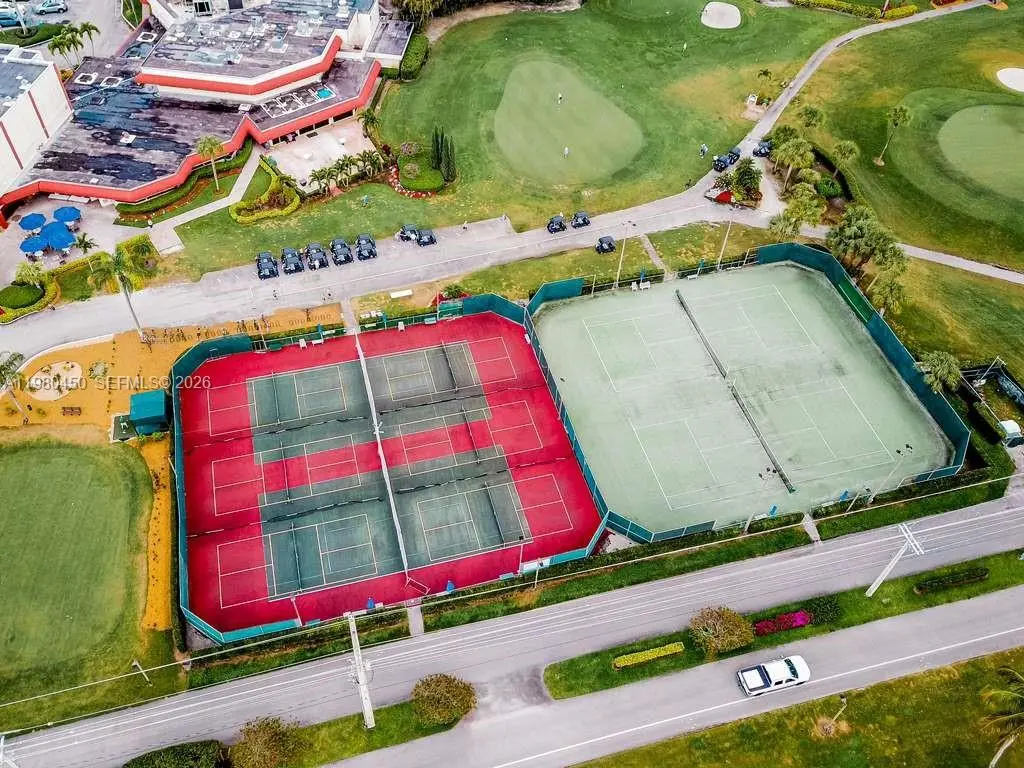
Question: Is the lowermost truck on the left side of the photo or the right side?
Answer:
right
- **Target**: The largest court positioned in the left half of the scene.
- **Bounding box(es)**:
[180,311,601,635]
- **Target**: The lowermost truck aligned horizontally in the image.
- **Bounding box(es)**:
[735,658,810,696]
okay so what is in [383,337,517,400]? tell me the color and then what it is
gray sports court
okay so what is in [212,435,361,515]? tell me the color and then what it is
red sports court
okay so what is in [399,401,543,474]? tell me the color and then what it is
red sports court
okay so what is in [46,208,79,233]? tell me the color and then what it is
blue umbrella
